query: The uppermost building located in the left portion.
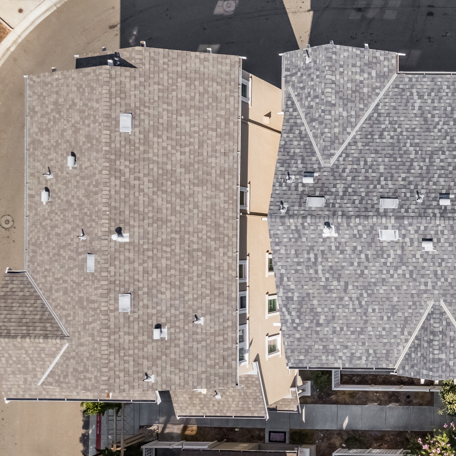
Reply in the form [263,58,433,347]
[0,39,319,421]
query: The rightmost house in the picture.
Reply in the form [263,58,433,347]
[266,37,456,387]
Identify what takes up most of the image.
buildings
